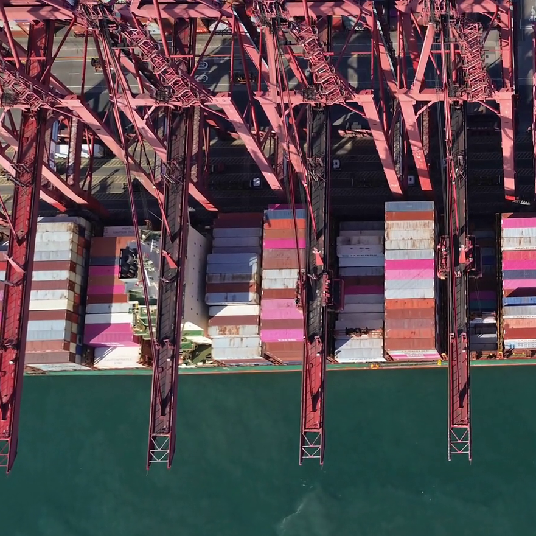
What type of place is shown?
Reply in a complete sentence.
It's a port.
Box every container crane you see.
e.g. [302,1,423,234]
[398,0,530,463]
[257,0,412,465]
[95,0,309,468]
[0,0,201,470]
[0,114,96,222]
